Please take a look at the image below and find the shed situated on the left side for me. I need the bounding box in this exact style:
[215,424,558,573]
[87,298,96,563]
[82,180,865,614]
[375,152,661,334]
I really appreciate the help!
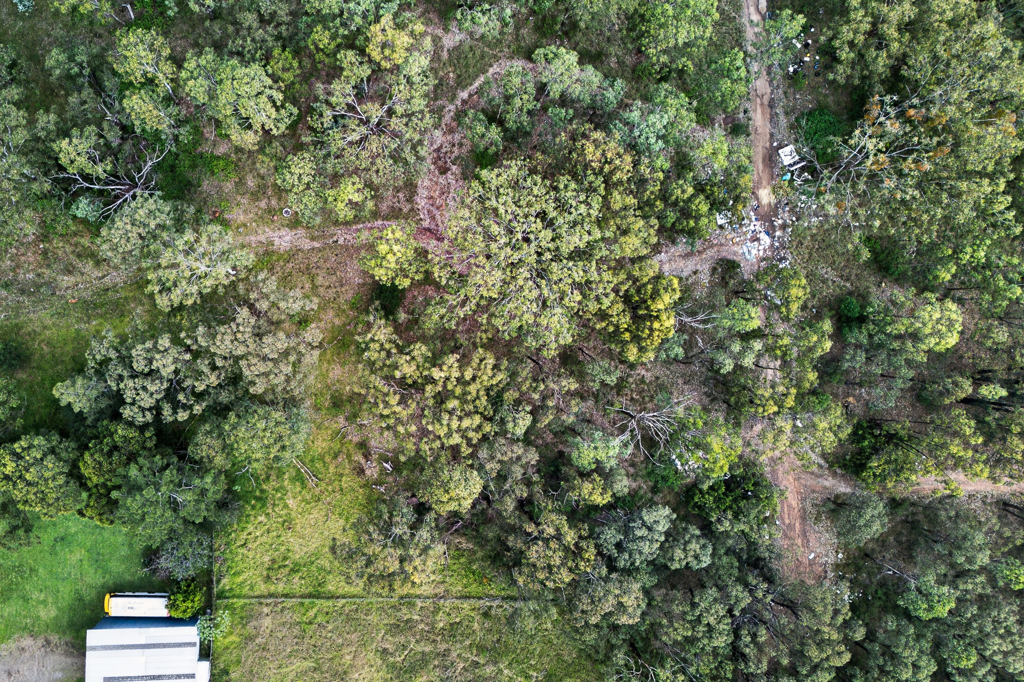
[84,609,215,682]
